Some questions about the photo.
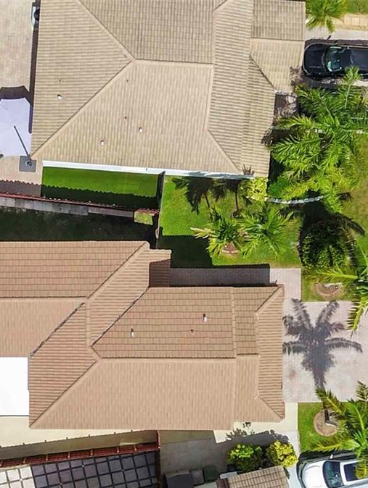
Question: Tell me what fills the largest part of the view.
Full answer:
The largest share of the image is taken up by buildings.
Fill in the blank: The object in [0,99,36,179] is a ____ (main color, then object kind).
white umbrella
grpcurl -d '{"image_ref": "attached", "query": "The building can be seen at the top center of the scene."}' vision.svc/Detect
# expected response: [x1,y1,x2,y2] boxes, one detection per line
[31,0,303,181]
